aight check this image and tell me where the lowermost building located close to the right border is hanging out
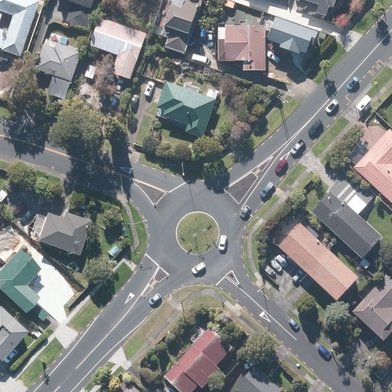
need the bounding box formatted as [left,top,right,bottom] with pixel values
[352,274,392,340]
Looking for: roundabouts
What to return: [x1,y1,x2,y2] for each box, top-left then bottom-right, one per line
[176,210,219,254]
